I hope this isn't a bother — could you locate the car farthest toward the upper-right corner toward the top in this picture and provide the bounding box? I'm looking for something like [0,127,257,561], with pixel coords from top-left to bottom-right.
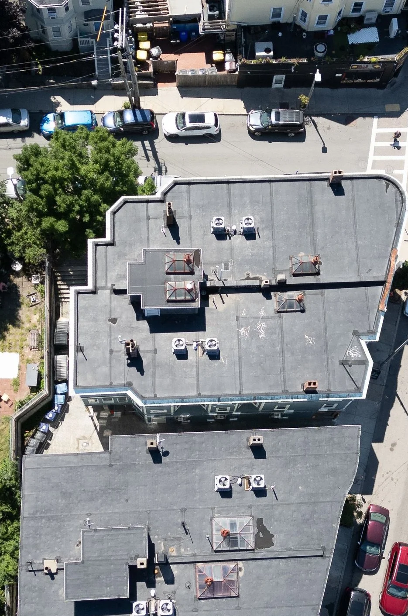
[243,108,309,142]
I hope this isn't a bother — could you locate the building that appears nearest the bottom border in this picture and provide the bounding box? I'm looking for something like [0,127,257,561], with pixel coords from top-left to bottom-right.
[17,424,361,616]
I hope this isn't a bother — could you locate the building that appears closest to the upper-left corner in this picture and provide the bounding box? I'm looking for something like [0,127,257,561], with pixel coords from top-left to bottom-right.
[13,0,114,59]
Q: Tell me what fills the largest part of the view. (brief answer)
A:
buildings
